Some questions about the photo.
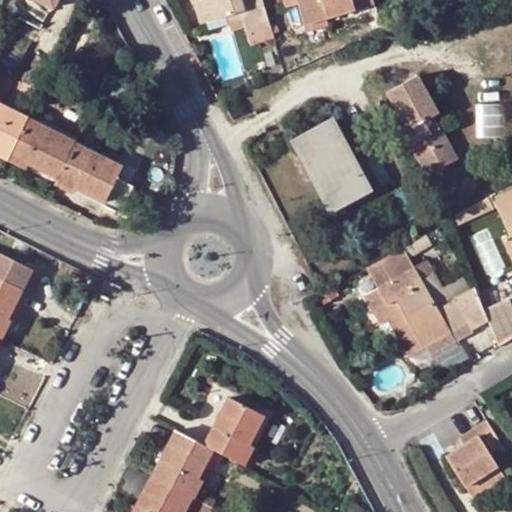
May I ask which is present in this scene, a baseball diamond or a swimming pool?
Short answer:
swimming pool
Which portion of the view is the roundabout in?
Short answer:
center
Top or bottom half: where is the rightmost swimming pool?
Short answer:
bottom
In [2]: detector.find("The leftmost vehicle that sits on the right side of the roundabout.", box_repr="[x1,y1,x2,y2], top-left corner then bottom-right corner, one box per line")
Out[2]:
[294,274,306,292]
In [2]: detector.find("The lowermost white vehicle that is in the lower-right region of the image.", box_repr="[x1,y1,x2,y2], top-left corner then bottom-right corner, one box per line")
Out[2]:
[466,406,480,423]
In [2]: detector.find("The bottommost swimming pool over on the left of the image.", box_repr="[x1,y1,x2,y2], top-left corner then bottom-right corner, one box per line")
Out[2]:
[149,167,164,182]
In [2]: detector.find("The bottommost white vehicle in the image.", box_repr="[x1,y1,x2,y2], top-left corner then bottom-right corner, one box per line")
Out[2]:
[18,494,40,510]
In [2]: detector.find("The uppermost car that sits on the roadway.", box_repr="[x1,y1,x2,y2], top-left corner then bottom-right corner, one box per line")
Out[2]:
[154,4,168,24]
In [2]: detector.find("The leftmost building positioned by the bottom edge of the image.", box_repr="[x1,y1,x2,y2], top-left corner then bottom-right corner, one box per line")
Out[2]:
[134,431,212,512]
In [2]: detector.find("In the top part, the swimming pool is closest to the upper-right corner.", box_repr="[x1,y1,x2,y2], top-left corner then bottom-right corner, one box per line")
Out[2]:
[287,6,302,26]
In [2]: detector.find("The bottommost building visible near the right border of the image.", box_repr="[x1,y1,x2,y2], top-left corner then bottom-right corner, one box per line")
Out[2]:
[446,421,504,496]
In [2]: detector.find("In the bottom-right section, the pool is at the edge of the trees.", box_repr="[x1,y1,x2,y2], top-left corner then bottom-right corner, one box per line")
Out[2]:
[371,362,405,391]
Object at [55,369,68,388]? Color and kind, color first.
white vehicle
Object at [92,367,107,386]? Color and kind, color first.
gray car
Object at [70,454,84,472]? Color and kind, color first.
gray car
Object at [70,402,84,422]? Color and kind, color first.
white vehicle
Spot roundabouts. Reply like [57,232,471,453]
[163,211,257,305]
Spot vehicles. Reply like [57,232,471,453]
[478,92,500,102]
[70,402,84,422]
[70,454,84,472]
[454,414,470,434]
[294,274,306,292]
[466,406,480,423]
[154,4,168,24]
[92,367,107,386]
[44,282,52,298]
[66,342,78,360]
[60,426,74,444]
[109,382,122,401]
[24,423,38,442]
[119,360,131,377]
[132,338,144,356]
[55,369,68,388]
[18,494,40,510]
[50,450,64,470]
